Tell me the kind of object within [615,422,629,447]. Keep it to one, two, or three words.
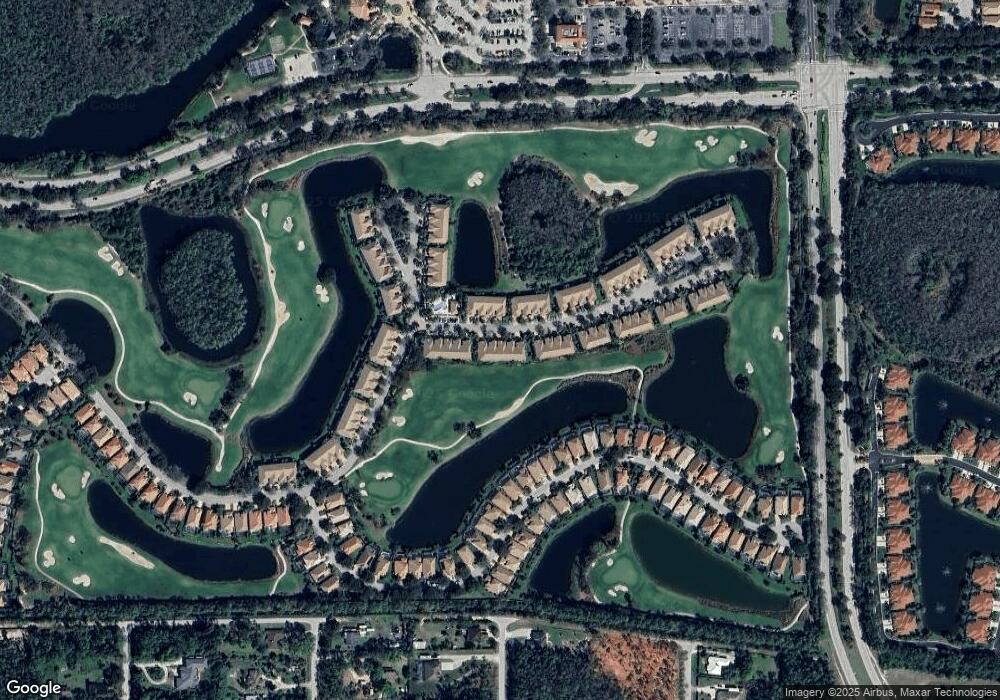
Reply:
house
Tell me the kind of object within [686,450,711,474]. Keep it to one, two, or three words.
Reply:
house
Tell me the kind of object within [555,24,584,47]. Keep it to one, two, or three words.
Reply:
building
